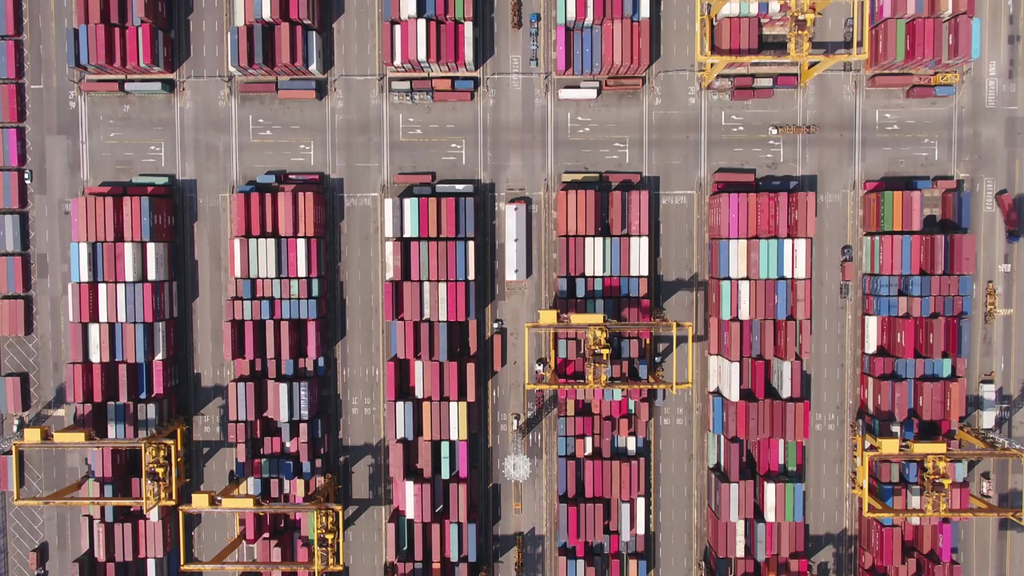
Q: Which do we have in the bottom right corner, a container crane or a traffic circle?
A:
container crane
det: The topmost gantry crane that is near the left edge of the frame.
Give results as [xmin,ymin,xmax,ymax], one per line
[10,408,193,510]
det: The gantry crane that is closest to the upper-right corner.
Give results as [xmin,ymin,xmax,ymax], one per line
[698,0,869,89]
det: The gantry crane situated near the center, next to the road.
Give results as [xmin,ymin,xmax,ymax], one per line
[525,304,694,389]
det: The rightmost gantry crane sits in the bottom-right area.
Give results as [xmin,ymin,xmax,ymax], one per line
[847,422,1024,521]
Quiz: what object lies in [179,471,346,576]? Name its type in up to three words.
container crane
